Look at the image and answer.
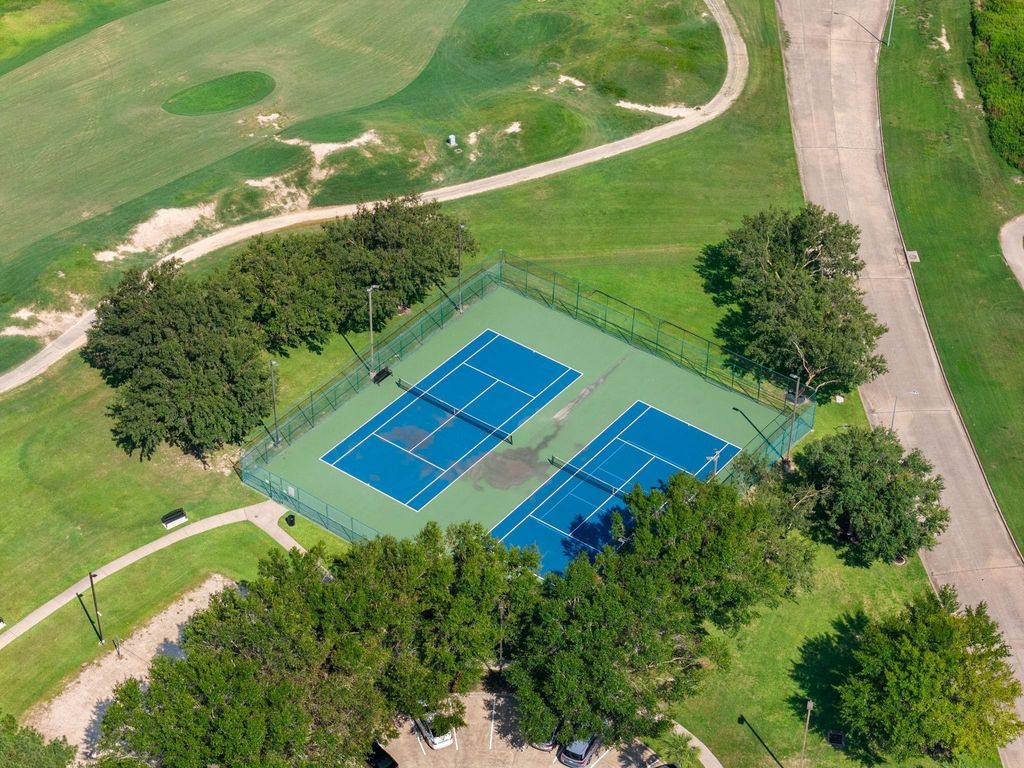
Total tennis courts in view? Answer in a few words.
2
